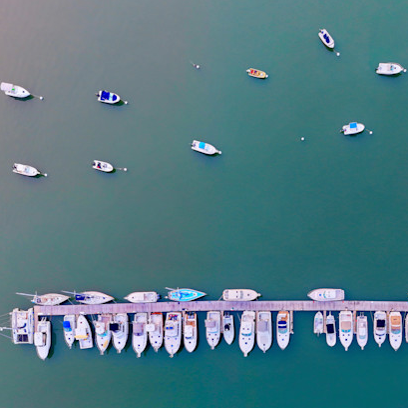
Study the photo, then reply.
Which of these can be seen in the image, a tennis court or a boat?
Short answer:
boat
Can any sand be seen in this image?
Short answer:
No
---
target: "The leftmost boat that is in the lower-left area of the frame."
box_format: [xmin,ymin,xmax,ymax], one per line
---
[0,308,34,344]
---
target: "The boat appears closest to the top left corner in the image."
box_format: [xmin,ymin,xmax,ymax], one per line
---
[0,81,35,98]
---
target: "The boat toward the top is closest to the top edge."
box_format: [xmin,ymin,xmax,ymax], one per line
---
[318,29,336,51]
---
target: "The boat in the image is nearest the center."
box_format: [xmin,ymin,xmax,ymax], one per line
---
[190,141,218,155]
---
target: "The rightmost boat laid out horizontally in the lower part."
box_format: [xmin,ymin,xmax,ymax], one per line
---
[306,288,345,301]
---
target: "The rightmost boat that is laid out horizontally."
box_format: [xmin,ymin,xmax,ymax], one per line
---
[377,63,404,76]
